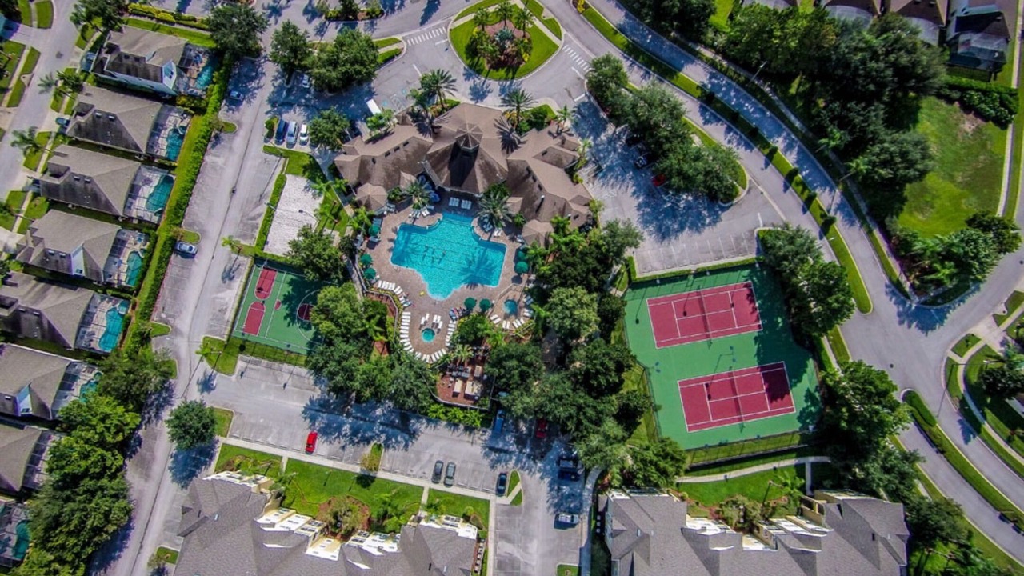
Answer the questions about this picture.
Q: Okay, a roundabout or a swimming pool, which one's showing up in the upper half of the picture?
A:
swimming pool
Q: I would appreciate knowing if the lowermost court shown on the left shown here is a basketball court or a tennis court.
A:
basketball court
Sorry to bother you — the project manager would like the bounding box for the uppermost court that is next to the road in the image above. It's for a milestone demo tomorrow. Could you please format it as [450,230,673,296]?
[264,174,322,256]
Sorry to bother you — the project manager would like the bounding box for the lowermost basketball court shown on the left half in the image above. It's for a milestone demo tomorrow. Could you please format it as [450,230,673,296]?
[235,265,341,354]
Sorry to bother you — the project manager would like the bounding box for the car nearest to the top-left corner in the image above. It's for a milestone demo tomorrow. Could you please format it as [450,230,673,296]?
[76,49,93,72]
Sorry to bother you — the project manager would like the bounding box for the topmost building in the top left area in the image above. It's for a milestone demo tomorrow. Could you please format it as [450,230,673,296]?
[92,32,200,95]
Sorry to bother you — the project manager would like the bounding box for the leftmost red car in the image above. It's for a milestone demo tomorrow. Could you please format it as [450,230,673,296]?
[304,432,316,454]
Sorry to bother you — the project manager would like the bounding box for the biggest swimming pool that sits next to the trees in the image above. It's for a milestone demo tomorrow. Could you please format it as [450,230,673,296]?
[391,212,507,301]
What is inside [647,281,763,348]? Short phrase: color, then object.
red tennis court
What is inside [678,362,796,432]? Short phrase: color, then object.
red tennis court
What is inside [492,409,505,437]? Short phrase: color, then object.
blue vehicle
